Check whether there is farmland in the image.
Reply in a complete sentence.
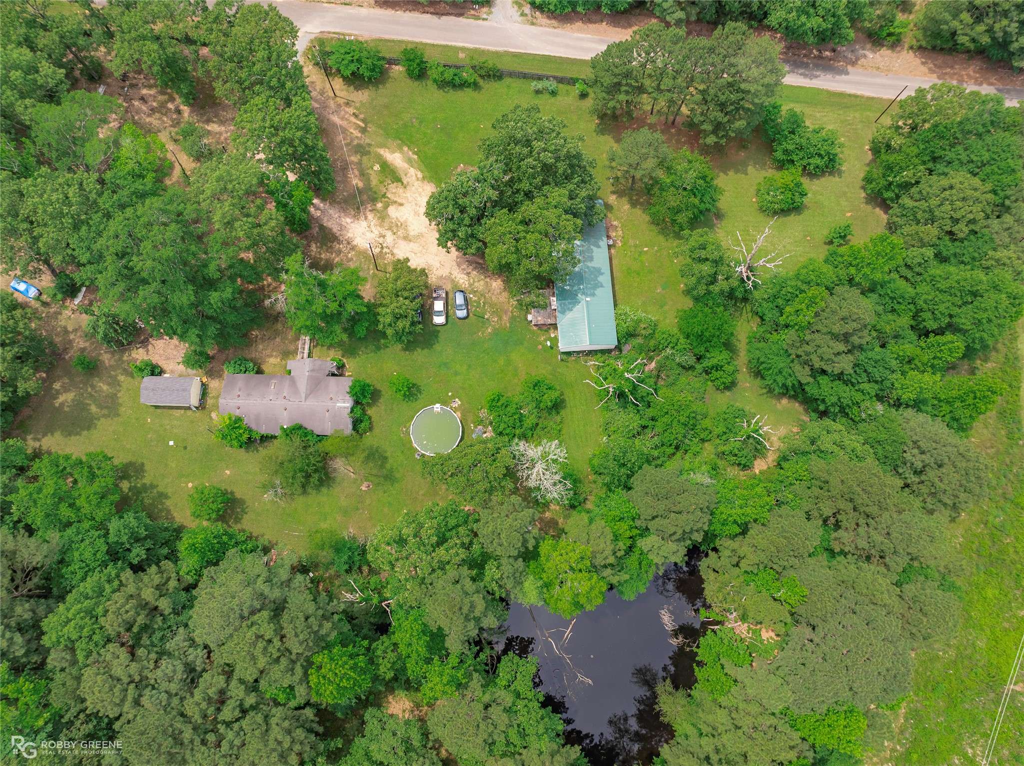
No, the picture contains no farmland.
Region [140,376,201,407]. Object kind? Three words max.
shed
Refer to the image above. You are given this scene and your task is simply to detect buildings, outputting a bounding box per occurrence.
[553,200,618,350]
[220,359,355,435]
[140,376,201,407]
